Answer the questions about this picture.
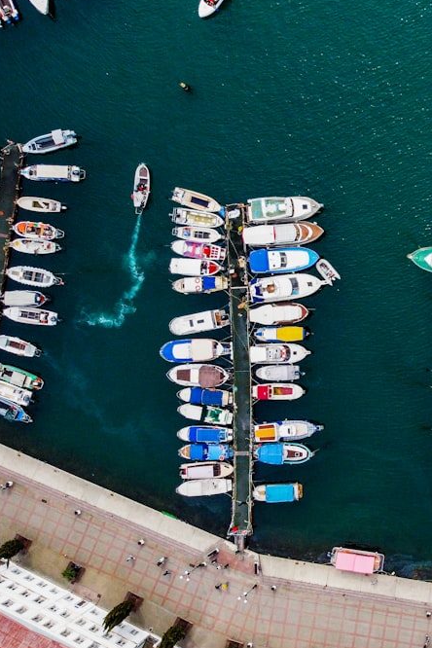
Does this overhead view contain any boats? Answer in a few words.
Yes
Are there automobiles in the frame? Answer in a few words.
No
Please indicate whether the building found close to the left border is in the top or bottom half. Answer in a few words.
bottom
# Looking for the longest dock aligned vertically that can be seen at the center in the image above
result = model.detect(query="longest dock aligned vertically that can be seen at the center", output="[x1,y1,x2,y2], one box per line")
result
[224,204,257,534]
